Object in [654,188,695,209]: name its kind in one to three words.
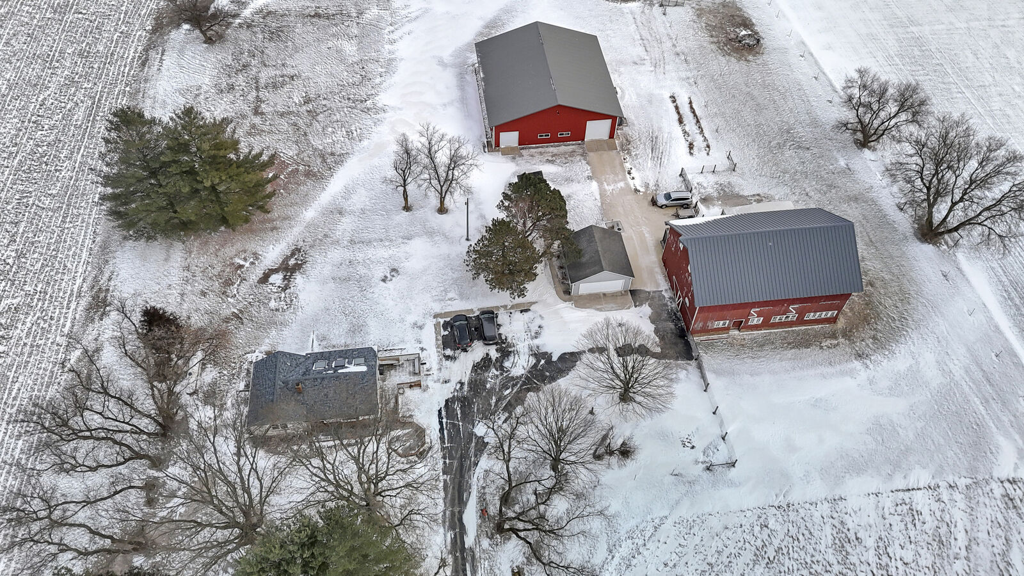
car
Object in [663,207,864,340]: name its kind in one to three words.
barn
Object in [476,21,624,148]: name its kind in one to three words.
shed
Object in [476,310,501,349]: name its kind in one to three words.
car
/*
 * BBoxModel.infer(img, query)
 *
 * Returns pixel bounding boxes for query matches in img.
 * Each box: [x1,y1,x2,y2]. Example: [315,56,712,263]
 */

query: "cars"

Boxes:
[450,315,473,353]
[654,188,695,209]
[476,310,501,349]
